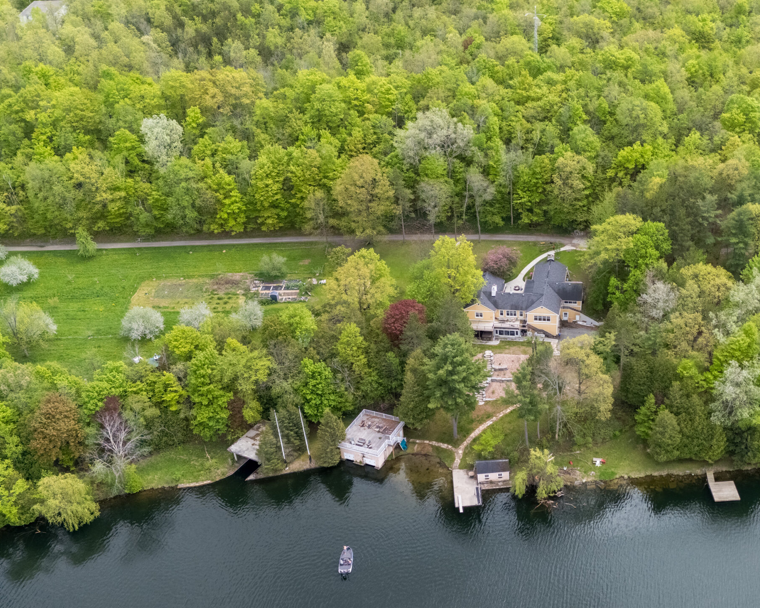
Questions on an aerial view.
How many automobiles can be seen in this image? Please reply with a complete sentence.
The photo contains no automobiles.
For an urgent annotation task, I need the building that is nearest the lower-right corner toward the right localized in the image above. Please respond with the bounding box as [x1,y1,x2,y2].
[475,457,510,484]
